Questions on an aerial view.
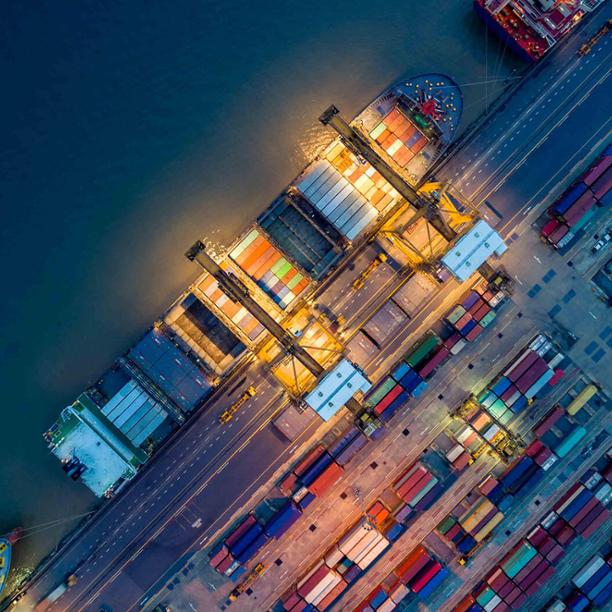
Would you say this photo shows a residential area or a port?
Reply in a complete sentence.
This looks like a port.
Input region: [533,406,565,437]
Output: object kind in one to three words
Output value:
shipping container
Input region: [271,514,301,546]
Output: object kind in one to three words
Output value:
shipping container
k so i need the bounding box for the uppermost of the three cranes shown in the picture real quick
[317,104,510,297]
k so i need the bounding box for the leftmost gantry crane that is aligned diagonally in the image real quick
[184,240,378,433]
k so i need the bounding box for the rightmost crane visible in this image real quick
[443,388,520,462]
